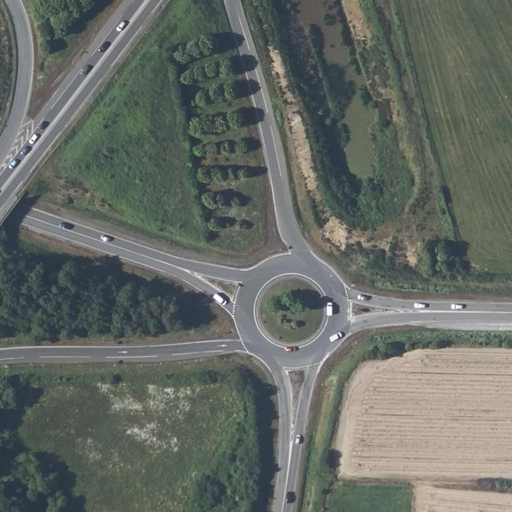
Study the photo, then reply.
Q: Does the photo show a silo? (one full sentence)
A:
No, the photo shows no silo.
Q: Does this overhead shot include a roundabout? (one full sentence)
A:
Yes, there's a roundabout here.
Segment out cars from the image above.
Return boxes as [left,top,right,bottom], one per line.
[294,434,300,444]
[286,492,292,503]
[10,159,19,170]
[82,64,91,76]
[29,134,38,144]
[21,146,30,156]
[101,235,112,242]
[414,303,426,308]
[451,304,462,309]
[60,222,72,229]
[100,42,109,52]
[356,294,368,300]
[285,346,294,352]
[117,20,126,30]
[39,120,48,131]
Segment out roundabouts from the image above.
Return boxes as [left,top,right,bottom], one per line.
[234,252,351,368]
